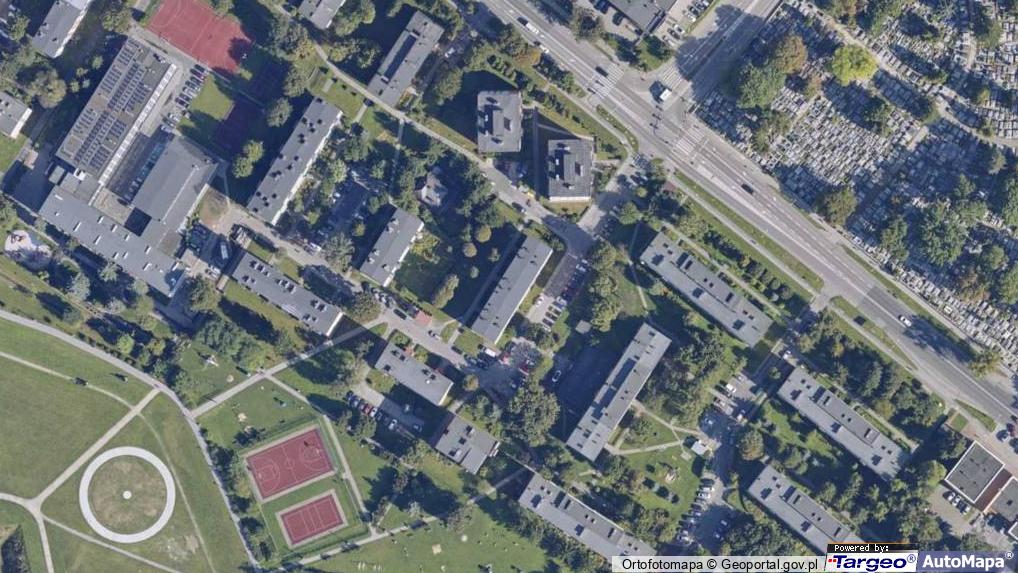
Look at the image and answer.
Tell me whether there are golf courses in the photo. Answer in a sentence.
No, there appears to be no golf course in this shot.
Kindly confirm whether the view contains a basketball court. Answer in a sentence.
Yes, this view includes a basketball court.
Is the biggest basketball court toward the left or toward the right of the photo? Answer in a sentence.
It is on the left.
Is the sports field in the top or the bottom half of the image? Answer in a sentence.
The sports field is in the top half of the image.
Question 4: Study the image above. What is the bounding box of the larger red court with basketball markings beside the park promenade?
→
[242,425,338,503]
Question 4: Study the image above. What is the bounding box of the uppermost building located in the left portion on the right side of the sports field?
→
[296,0,344,32]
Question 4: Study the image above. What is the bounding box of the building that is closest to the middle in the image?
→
[470,234,552,347]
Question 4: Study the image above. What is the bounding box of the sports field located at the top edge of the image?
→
[148,0,257,73]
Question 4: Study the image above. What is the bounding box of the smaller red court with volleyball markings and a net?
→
[275,488,349,550]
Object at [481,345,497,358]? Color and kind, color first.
white vehicle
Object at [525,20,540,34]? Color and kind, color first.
white vehicle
